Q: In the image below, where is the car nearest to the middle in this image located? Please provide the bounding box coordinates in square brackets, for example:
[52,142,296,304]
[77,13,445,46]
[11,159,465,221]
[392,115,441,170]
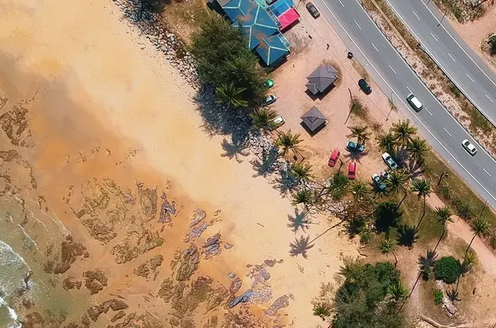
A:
[269,112,288,127]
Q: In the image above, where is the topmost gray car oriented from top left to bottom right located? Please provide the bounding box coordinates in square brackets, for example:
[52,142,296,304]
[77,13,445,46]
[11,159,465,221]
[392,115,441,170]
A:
[305,0,321,19]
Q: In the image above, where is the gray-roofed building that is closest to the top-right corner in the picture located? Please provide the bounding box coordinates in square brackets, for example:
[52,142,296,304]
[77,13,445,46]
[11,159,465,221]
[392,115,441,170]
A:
[305,63,339,97]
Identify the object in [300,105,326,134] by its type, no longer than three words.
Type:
building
